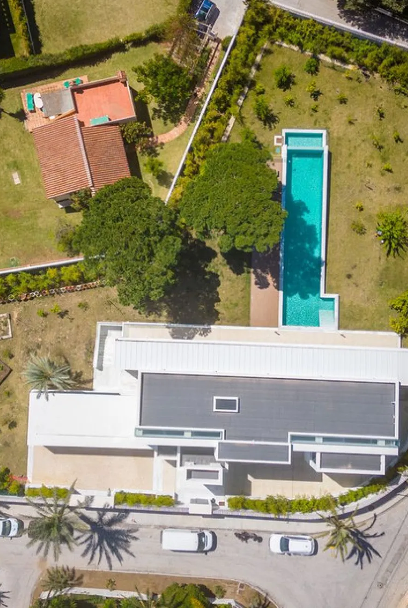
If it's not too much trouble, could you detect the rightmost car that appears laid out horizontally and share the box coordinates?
[268,534,316,557]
